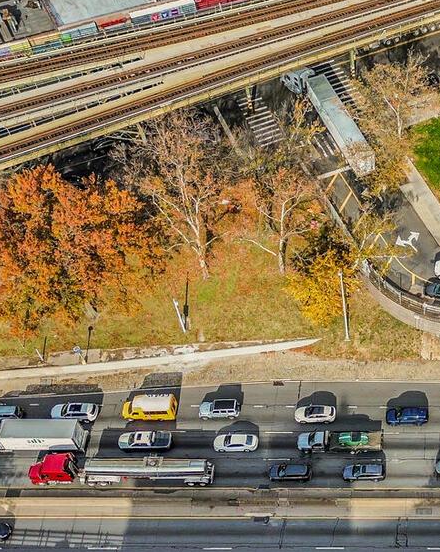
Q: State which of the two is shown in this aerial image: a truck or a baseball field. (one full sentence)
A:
Of the two, only a truck appears.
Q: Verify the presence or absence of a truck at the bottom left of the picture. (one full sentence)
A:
Yes, a truck is visible at the bottom left of the picture.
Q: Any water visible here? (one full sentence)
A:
No, water can't be seen anywhere here.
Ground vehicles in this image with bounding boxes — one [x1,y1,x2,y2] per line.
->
[51,400,99,421]
[0,416,90,453]
[0,403,24,421]
[281,73,375,178]
[338,426,373,446]
[295,426,384,455]
[387,404,428,425]
[0,522,15,542]
[268,461,313,482]
[121,394,180,421]
[423,280,440,298]
[214,432,259,452]
[28,454,217,487]
[341,461,385,482]
[117,428,174,451]
[296,403,336,423]
[198,397,241,418]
